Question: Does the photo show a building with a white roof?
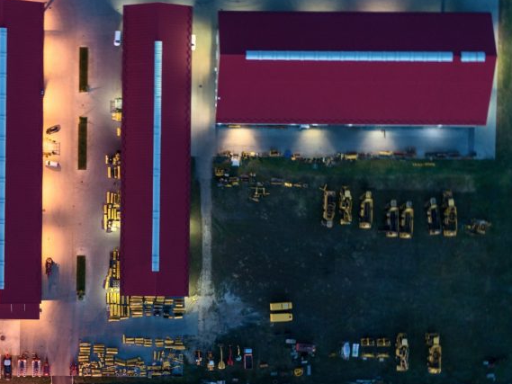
No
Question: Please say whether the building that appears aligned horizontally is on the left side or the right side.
right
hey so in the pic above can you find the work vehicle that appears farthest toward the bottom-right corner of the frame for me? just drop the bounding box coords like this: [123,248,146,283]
[429,333,443,373]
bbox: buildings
[0,0,44,320]
[215,11,500,128]
[120,1,192,296]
